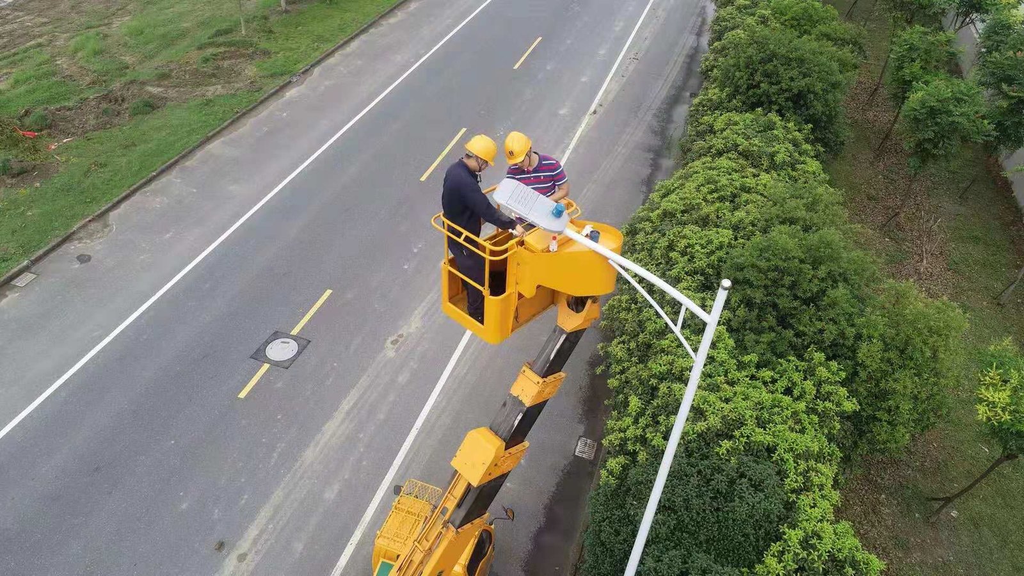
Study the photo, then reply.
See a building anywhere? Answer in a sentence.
No, there's no building here.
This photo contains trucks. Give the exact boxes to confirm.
[367,174,623,576]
